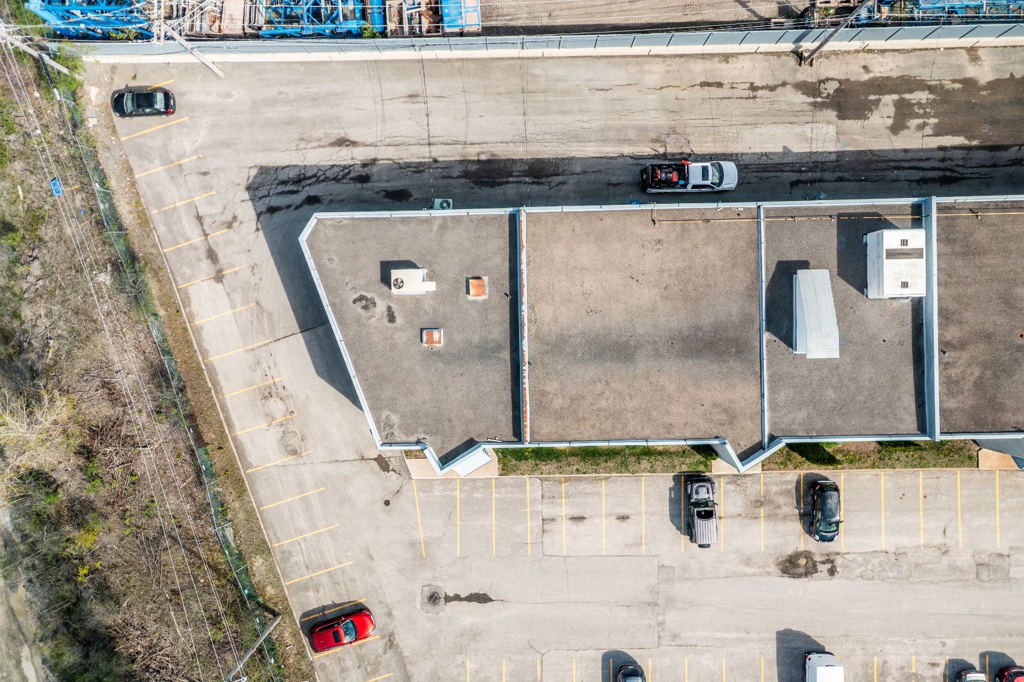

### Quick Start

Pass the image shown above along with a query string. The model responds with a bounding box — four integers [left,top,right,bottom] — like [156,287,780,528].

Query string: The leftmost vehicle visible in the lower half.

[308,608,379,656]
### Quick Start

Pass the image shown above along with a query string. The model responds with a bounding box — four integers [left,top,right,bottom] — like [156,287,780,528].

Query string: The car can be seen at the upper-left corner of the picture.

[114,87,179,119]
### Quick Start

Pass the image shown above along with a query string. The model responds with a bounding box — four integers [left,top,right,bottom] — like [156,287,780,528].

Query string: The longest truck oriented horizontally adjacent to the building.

[635,157,738,194]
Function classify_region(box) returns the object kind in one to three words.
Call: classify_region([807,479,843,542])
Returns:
car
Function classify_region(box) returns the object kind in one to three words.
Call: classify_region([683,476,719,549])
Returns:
vehicle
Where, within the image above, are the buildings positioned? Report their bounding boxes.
[299,195,1024,476]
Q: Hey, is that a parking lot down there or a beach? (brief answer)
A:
parking lot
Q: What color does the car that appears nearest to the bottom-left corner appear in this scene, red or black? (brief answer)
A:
red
